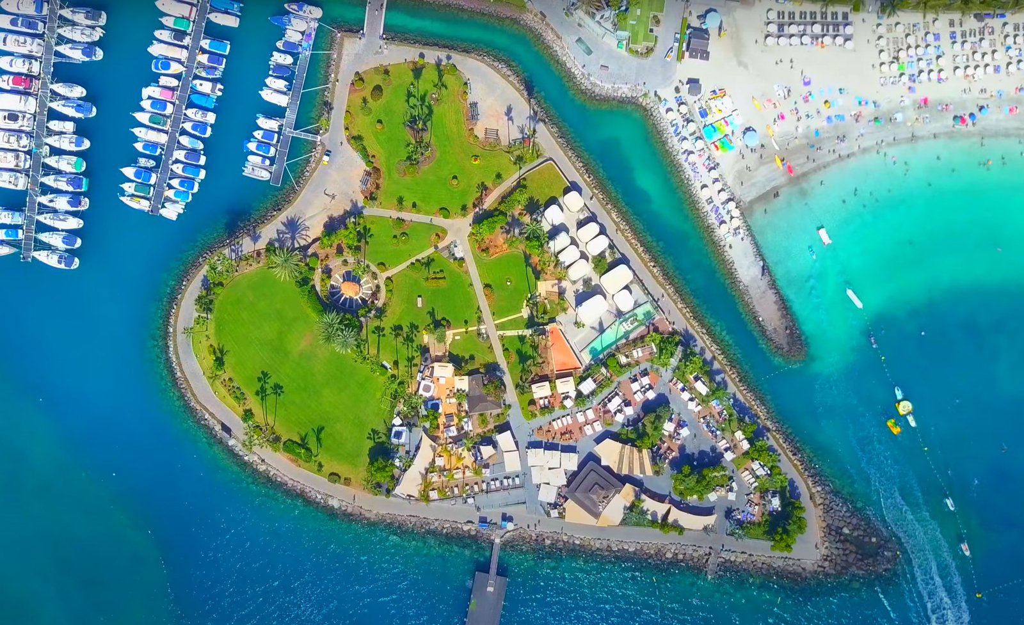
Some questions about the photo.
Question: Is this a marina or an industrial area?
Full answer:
It's a marina.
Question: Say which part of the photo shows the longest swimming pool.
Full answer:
The longest swimming pool is in the center part of the image.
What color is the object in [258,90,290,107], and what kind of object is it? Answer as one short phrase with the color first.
white boat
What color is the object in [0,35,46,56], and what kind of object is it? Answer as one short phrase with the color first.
white boat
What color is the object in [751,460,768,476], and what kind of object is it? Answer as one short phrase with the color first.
white umbrella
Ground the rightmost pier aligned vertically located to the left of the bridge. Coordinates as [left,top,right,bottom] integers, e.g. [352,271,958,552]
[270,17,318,186]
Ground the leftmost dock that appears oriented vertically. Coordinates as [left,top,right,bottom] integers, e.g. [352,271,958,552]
[21,0,61,262]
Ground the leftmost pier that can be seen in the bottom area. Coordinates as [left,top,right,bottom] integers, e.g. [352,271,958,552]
[466,538,508,625]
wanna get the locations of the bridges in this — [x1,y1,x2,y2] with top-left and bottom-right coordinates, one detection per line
[363,0,385,38]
